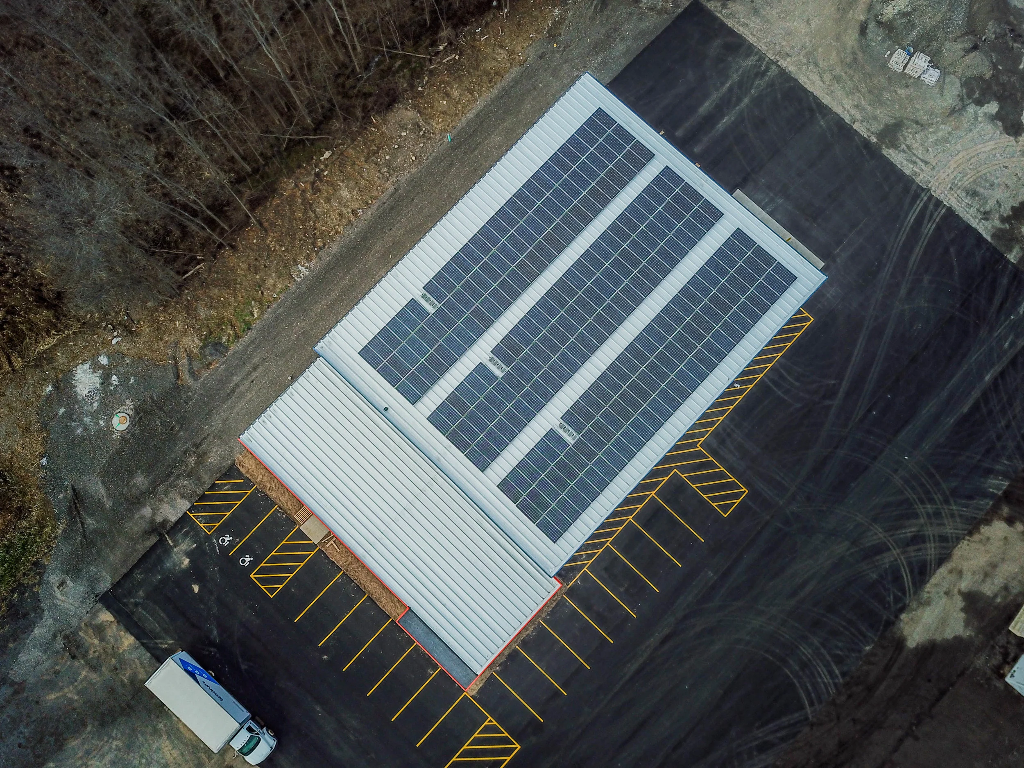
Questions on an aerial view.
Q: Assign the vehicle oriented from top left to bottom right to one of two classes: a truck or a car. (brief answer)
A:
truck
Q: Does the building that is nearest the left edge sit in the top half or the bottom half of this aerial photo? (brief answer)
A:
bottom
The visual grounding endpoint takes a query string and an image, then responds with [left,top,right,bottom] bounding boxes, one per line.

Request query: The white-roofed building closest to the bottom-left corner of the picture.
[237,355,562,692]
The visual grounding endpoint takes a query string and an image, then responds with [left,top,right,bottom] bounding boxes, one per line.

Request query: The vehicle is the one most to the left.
[146,646,278,764]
